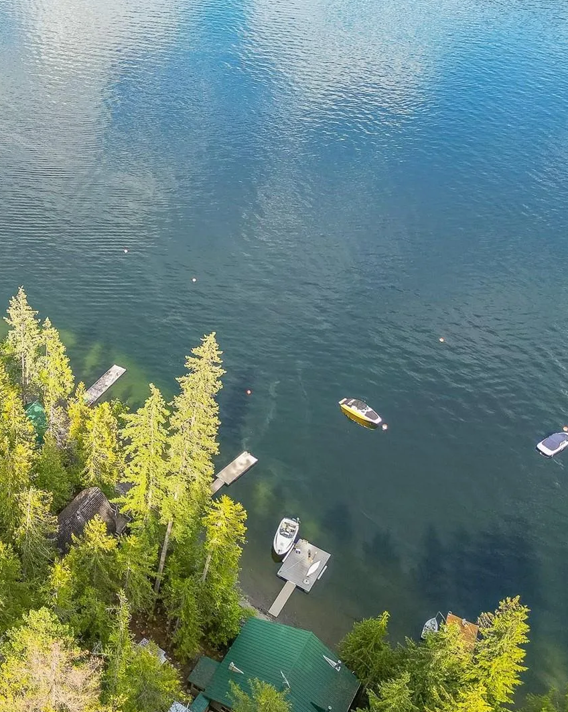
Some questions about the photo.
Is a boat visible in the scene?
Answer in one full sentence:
Yes, the picture does show a boat.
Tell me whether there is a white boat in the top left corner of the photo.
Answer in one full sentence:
No, looking in the top left corner of the photo, there is no white boat.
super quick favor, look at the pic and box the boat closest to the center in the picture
[333,397,383,423]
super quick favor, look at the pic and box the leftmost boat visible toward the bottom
[276,513,304,558]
